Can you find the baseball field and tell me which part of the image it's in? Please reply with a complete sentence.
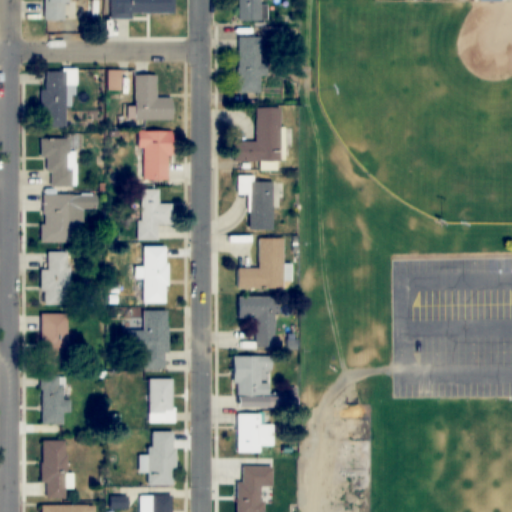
You can find the baseball field in the top right area of the picture.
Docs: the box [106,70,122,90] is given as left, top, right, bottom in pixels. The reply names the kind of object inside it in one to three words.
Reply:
building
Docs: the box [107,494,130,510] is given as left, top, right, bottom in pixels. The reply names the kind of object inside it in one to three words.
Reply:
building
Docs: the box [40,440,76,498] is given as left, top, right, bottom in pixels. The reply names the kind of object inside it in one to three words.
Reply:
house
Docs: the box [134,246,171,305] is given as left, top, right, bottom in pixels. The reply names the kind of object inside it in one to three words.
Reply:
house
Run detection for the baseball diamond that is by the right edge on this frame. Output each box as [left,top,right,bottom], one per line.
[318,0,512,223]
